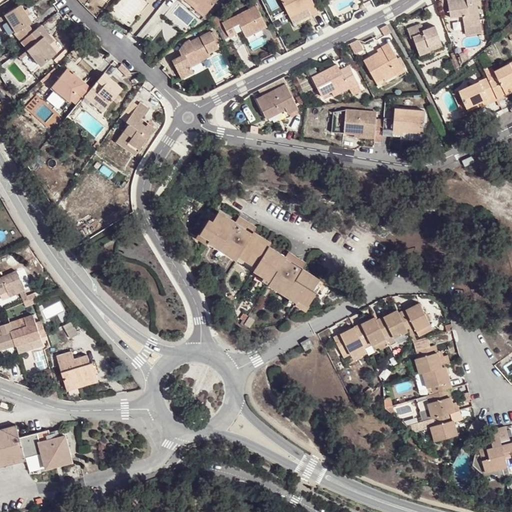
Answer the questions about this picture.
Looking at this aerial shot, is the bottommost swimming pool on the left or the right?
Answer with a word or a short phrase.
right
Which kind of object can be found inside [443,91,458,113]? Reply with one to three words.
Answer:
swimming pool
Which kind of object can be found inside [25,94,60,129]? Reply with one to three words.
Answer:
swimming pool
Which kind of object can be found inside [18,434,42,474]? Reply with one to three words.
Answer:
building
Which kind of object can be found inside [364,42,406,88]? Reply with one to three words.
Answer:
house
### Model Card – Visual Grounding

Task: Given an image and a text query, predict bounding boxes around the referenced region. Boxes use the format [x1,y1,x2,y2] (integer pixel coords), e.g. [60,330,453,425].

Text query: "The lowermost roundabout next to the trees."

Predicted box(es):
[136,340,248,450]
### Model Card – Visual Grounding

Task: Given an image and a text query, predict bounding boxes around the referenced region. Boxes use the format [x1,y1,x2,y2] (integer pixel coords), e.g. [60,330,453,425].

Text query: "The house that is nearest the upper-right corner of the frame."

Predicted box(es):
[447,0,484,36]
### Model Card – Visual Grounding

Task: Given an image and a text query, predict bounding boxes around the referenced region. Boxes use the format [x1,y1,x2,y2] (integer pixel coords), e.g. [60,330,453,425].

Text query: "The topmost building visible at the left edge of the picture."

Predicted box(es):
[4,6,32,36]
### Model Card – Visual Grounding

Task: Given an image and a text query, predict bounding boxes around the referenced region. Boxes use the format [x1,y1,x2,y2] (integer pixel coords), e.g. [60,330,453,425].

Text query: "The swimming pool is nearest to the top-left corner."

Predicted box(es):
[9,62,26,82]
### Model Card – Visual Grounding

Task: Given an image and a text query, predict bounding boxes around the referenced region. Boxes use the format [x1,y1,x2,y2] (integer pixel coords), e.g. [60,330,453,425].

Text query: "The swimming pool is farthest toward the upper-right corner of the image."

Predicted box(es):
[462,35,482,48]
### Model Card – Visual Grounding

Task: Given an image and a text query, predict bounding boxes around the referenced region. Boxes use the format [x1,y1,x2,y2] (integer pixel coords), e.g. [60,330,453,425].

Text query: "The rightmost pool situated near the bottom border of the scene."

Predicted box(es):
[454,450,476,490]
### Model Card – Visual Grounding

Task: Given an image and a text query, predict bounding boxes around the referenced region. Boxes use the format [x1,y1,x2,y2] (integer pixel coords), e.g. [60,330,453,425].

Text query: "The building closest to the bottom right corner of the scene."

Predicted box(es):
[480,427,512,475]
